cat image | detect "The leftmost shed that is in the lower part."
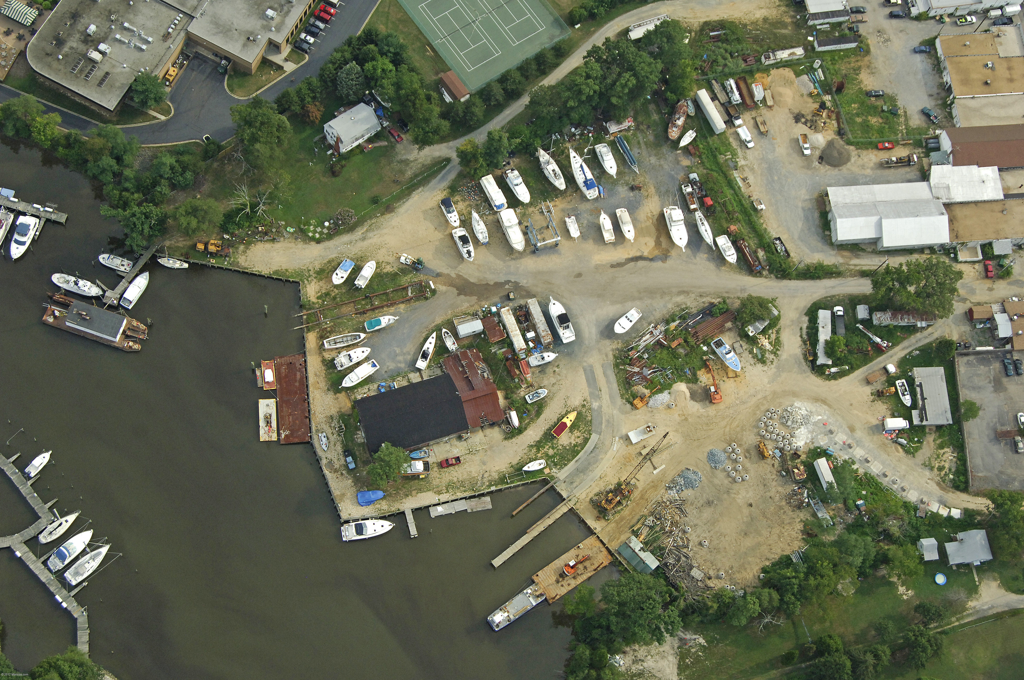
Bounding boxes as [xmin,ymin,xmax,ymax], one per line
[354,373,469,456]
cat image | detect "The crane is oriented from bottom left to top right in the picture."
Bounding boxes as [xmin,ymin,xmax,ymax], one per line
[596,431,669,515]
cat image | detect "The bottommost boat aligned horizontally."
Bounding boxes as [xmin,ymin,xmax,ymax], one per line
[338,519,396,542]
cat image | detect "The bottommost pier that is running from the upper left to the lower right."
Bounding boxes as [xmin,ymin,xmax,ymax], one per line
[11,537,92,652]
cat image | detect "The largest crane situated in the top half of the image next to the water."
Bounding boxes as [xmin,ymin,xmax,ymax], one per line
[193,230,264,263]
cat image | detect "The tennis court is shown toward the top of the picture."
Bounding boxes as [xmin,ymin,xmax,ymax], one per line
[406,0,574,90]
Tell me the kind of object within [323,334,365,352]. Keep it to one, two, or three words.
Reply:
boat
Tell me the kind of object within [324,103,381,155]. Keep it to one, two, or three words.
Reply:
house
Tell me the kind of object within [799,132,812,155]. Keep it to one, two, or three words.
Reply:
vehicle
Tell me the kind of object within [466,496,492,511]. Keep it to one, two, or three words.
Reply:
pier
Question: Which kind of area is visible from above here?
port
